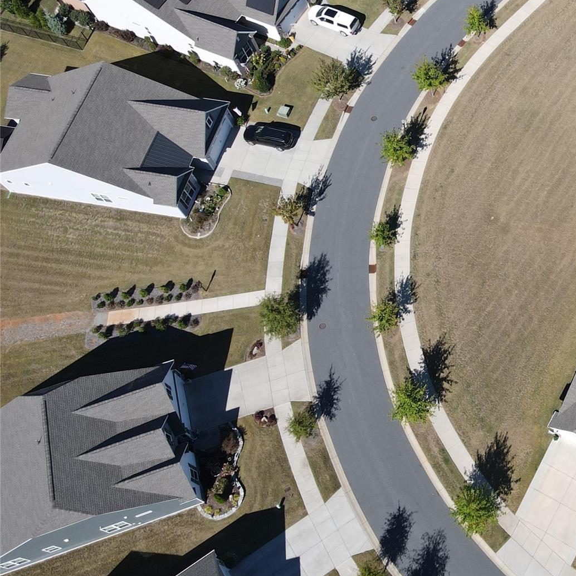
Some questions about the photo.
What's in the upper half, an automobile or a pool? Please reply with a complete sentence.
It is an automobile that can be seen in the upper half.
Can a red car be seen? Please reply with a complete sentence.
No, there appears to be no red car in this shot.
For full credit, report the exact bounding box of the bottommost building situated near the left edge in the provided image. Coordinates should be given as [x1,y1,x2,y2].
[0,359,207,573]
